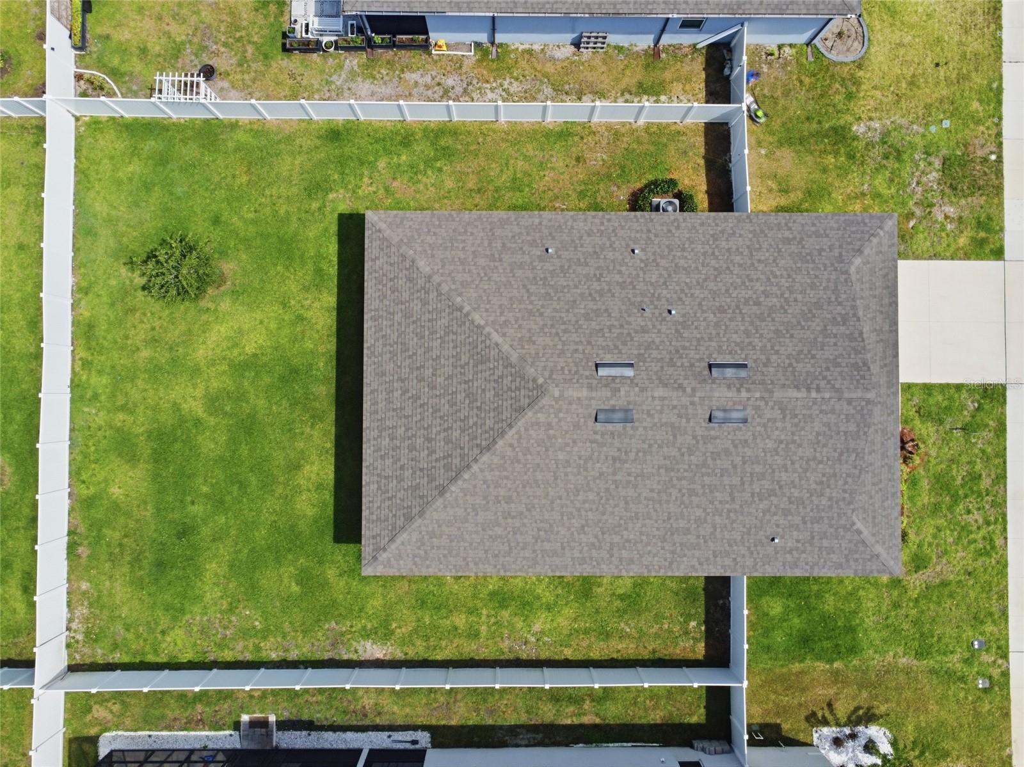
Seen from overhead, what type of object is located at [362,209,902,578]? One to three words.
house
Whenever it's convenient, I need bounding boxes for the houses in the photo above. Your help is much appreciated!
[225,742,837,767]
[362,209,902,578]
[341,0,861,48]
